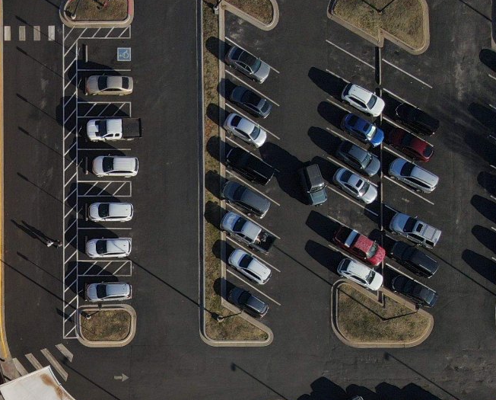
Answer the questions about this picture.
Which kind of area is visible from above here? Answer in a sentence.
The area seen from above is a parking lot.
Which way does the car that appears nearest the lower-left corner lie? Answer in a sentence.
In this picture, the car that appears nearest the lower-left corner lies horizontally.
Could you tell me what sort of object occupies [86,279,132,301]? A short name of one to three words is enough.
car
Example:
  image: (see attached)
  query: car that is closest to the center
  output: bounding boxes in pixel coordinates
[221,179,272,218]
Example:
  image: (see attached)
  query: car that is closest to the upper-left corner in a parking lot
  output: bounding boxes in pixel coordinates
[86,71,132,95]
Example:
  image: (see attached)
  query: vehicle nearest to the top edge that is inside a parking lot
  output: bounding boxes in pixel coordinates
[224,44,269,82]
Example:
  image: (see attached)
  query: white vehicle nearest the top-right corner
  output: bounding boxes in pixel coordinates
[338,80,385,118]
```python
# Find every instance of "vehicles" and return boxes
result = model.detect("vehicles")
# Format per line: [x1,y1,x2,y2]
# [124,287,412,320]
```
[86,71,132,95]
[334,139,381,176]
[221,111,266,148]
[226,83,274,120]
[387,127,434,163]
[221,179,272,218]
[338,111,384,149]
[335,255,382,292]
[86,115,143,142]
[86,279,132,301]
[220,210,280,254]
[222,282,270,319]
[90,154,140,177]
[388,156,440,195]
[391,239,440,277]
[300,161,328,206]
[224,44,269,82]
[220,143,280,188]
[225,248,272,285]
[393,100,440,137]
[389,274,438,310]
[390,211,441,250]
[331,165,377,202]
[86,235,132,257]
[87,199,133,223]
[328,223,387,268]
[338,80,385,118]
